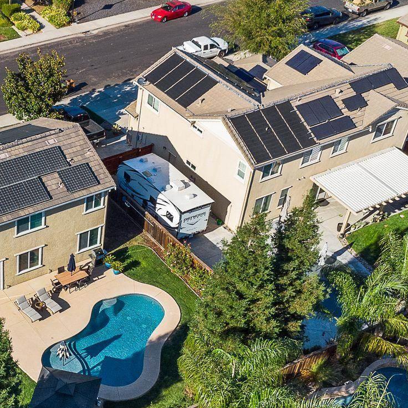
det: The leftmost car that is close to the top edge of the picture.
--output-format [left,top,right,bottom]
[149,0,194,20]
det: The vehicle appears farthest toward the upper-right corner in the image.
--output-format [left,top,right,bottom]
[341,0,390,18]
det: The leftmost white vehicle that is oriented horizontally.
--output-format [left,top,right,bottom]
[176,34,235,59]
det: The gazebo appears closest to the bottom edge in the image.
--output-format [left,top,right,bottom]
[29,368,102,408]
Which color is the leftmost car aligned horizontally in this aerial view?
red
